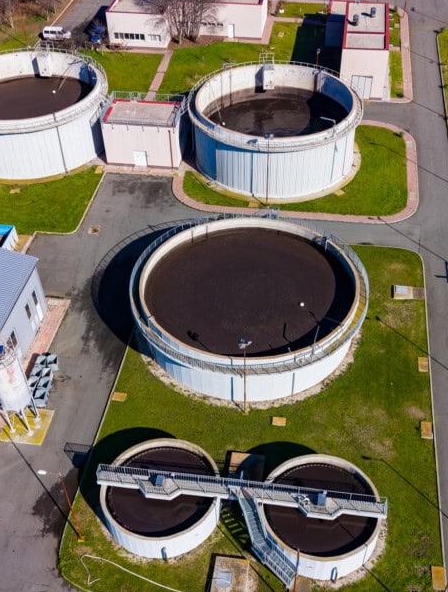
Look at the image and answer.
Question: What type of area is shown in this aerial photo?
industrial area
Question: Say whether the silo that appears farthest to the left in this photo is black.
No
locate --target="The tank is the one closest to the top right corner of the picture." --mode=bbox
[187,50,361,198]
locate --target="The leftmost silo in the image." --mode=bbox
[0,336,41,437]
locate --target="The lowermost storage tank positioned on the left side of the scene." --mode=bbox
[99,438,221,561]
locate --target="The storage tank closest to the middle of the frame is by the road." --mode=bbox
[130,204,370,401]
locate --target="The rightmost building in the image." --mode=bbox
[339,0,389,100]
